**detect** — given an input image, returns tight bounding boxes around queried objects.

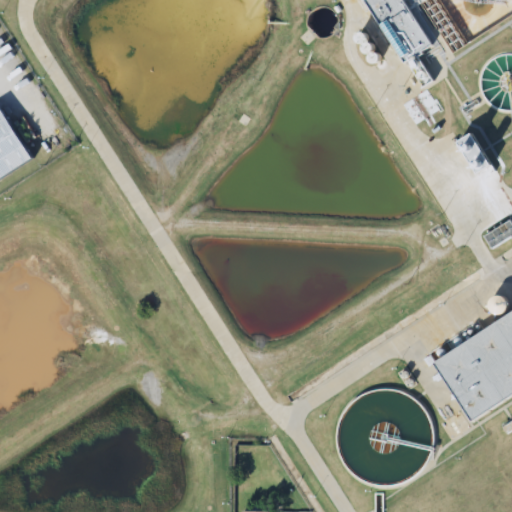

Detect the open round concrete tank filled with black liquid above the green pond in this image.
[306,6,346,38]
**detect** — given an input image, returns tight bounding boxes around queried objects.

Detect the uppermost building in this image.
[362,0,432,58]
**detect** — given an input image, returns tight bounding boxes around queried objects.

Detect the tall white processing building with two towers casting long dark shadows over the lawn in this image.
[453,132,497,176]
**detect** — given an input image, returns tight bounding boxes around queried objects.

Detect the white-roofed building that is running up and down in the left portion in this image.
[0,108,32,179]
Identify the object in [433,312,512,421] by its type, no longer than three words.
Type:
building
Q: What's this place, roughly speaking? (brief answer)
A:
industrial area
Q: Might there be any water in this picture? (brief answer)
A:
Yes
